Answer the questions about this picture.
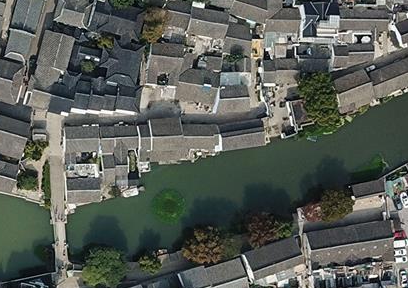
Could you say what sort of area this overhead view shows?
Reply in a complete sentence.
What you see here is a residential area.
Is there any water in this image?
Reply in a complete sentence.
Yes, some water is visible.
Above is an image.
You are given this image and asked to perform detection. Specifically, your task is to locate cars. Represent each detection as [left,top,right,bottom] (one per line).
[396,239,408,248]
[396,249,408,256]
[399,269,408,287]
[394,231,408,239]
[391,256,408,263]
[392,194,402,212]
[400,191,408,209]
